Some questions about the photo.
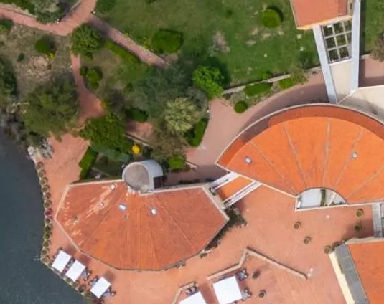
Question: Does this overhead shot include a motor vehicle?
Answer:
No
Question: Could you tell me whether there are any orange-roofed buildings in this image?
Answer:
Yes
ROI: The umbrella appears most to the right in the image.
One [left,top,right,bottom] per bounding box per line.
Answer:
[213,276,242,304]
